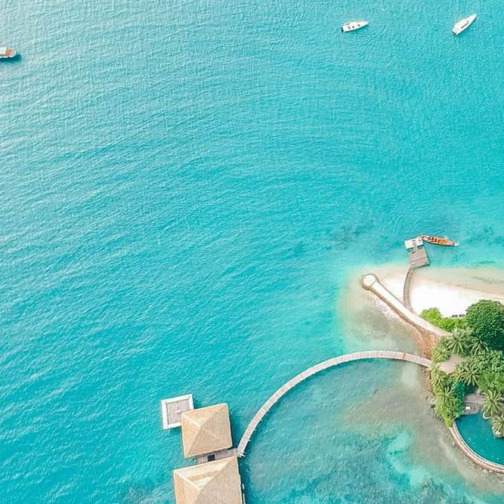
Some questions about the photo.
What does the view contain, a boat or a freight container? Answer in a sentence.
The image shows a boat.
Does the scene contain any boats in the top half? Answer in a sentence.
Yes, a boat can be seen in the top half.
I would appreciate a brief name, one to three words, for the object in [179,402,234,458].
building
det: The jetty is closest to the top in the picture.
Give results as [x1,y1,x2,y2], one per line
[404,236,430,268]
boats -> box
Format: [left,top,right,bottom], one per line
[0,47,17,58]
[340,21,366,32]
[450,13,476,38]
[419,234,460,246]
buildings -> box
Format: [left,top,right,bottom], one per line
[179,402,234,458]
[172,456,243,504]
